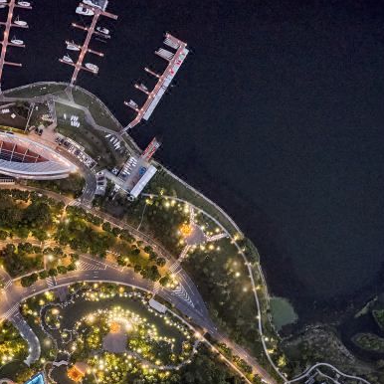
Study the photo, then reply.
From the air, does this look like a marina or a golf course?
marina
